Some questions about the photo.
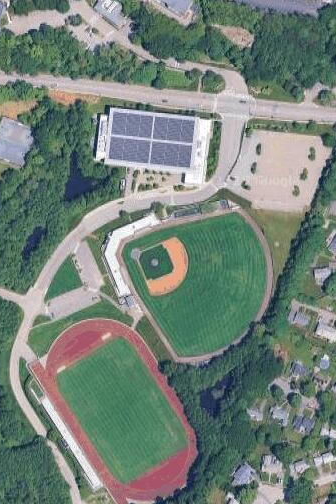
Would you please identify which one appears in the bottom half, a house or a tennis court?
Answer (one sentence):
You can see a house in the bottom half.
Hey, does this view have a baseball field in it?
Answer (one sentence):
Yes, this view includes a baseball field.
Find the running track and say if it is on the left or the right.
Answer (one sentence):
The running track sits on the left side.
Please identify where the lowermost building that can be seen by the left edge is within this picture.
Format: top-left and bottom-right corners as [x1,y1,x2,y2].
[0,117,34,167]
